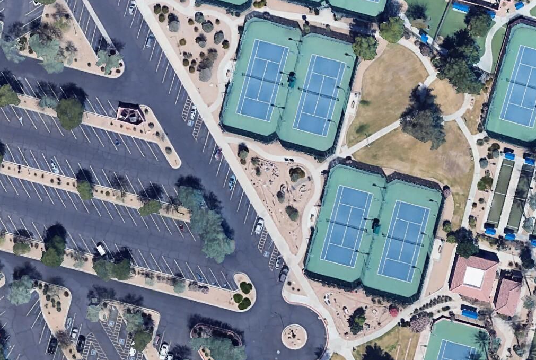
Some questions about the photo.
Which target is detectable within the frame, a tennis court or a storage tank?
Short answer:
tennis court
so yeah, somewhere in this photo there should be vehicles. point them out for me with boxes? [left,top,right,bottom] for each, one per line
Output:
[254,217,265,235]
[279,266,289,281]
[127,342,135,357]
[153,332,162,347]
[112,136,122,149]
[158,343,169,360]
[0,329,6,341]
[49,159,60,174]
[177,221,186,234]
[213,146,223,161]
[47,339,57,354]
[146,33,155,48]
[94,242,107,257]
[70,327,78,342]
[166,353,174,360]
[15,114,24,126]
[273,253,283,269]
[189,104,197,120]
[227,174,236,190]
[127,0,138,15]
[77,336,85,351]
